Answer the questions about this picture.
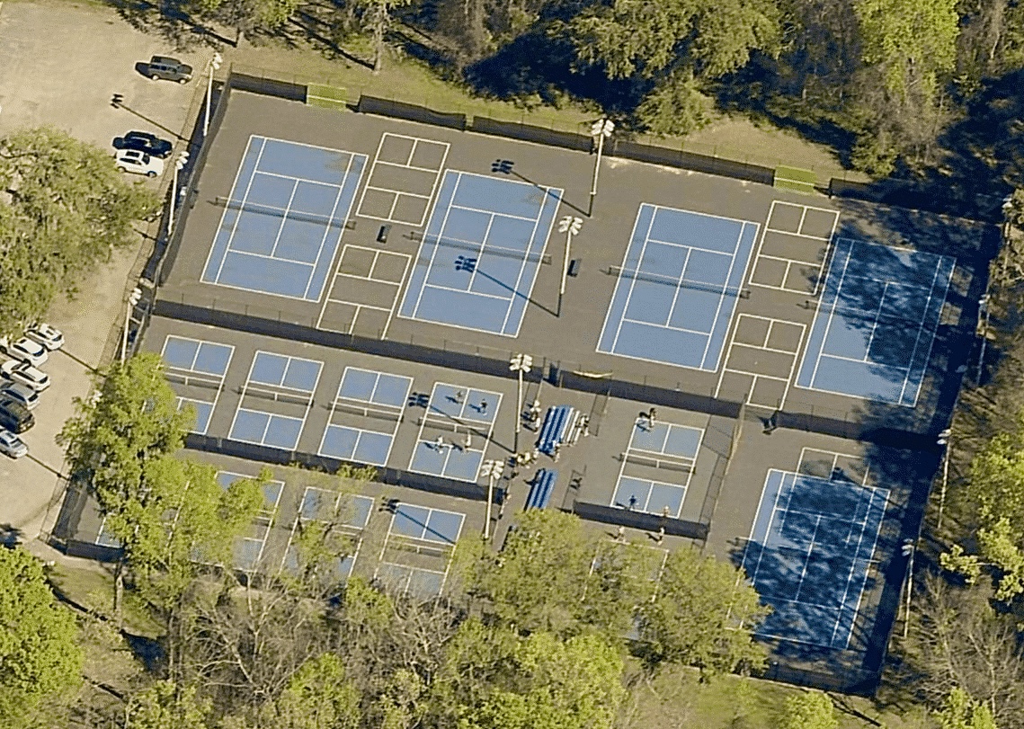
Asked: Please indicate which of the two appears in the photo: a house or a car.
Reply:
car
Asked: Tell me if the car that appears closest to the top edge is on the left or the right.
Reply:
left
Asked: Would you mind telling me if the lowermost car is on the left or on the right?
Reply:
left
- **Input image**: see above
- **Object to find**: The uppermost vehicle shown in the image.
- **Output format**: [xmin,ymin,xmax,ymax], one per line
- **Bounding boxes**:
[143,58,195,88]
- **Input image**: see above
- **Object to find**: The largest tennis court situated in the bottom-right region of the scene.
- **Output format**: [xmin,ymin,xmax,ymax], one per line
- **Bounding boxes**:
[735,470,889,648]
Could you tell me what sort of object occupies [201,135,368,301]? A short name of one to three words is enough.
tennis court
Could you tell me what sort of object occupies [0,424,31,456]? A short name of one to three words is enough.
car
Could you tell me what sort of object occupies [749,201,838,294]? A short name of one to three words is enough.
sports court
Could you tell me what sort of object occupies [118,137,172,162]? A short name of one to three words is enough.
car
